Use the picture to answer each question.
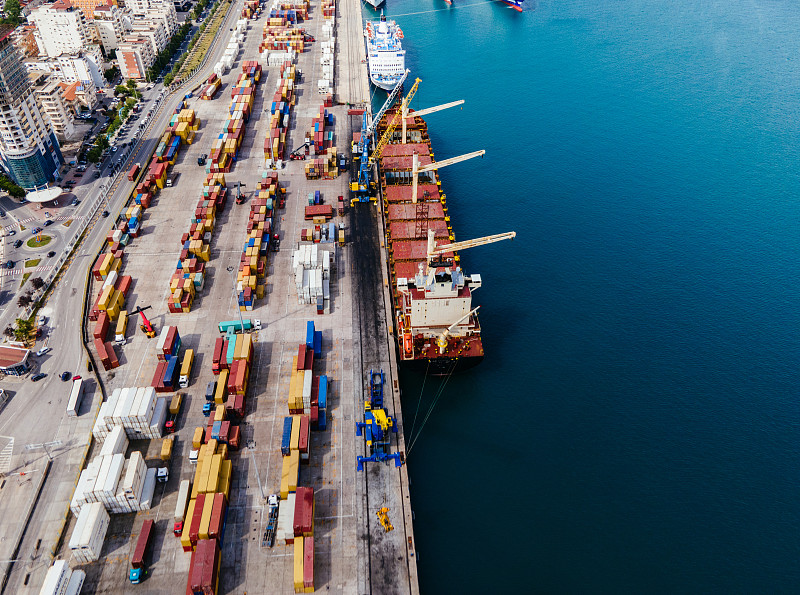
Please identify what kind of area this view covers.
port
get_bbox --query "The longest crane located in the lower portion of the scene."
[359,358,400,472]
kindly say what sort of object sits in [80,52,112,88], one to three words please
building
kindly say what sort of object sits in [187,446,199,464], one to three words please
vehicle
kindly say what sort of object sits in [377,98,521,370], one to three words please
ship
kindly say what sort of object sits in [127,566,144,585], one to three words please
vehicle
